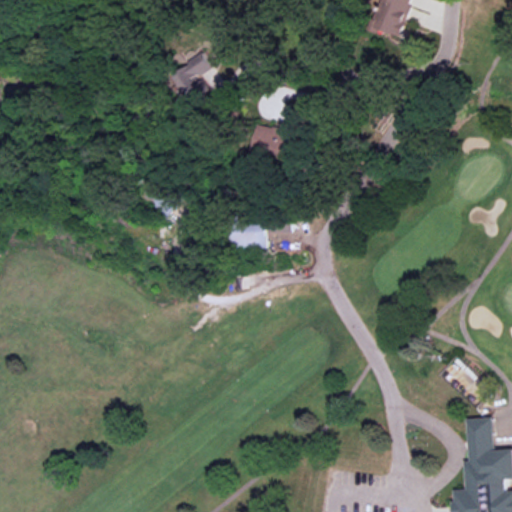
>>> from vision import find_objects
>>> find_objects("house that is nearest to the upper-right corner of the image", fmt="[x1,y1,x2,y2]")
[362,0,408,40]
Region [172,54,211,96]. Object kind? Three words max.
house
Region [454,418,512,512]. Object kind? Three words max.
building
